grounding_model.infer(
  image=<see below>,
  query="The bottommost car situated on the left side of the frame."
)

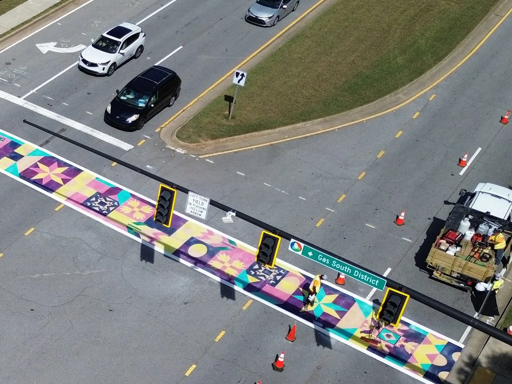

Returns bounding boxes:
[104,64,182,130]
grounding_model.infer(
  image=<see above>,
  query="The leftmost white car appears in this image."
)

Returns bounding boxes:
[79,20,146,75]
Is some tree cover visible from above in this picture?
No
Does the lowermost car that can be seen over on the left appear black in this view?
Yes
